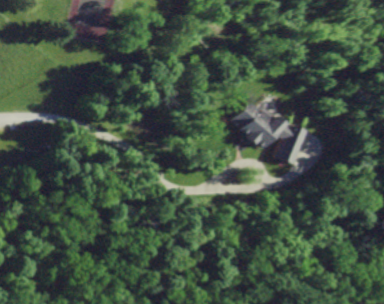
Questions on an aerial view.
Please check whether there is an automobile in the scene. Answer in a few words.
No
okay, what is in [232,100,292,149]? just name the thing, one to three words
house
